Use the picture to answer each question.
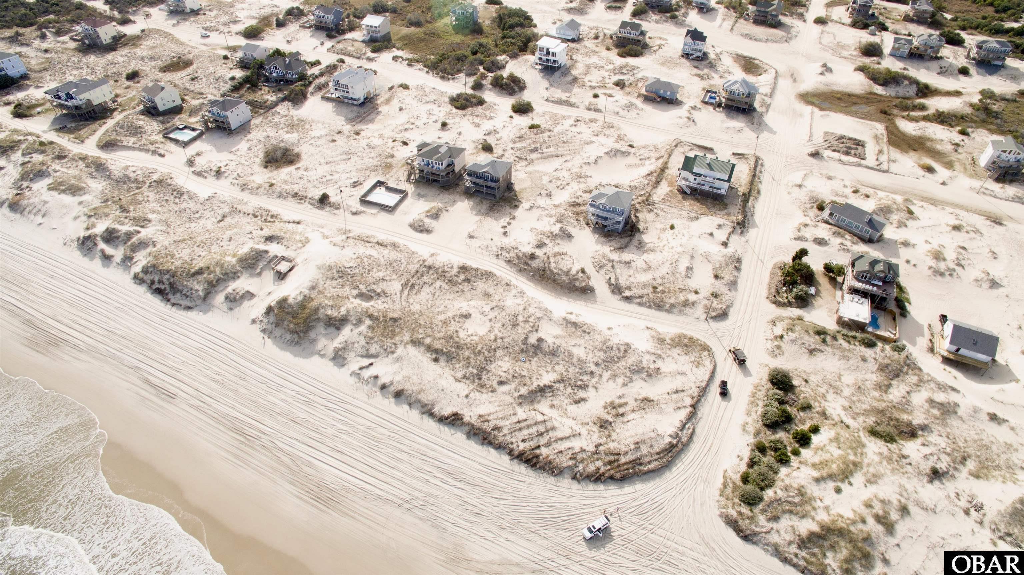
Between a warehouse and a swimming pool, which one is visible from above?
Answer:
swimming pool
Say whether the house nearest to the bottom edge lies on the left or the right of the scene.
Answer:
right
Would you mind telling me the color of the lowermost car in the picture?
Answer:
white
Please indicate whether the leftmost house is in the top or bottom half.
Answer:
top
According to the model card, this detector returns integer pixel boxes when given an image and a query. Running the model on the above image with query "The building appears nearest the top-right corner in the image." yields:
[957,37,1012,67]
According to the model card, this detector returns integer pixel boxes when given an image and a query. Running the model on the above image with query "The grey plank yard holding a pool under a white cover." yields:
[359,180,408,211]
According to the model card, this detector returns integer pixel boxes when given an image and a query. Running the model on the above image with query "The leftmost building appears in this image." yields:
[0,47,30,78]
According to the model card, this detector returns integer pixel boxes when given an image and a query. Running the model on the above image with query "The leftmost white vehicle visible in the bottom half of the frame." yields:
[579,508,612,535]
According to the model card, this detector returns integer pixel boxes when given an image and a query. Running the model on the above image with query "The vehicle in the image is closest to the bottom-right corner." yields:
[936,310,950,327]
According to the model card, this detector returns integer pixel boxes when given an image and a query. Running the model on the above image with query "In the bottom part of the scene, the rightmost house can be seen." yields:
[931,320,1003,378]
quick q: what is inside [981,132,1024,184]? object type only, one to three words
house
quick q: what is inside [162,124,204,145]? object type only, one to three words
swimming pool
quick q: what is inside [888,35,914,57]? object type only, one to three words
building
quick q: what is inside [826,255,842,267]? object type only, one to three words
vehicle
